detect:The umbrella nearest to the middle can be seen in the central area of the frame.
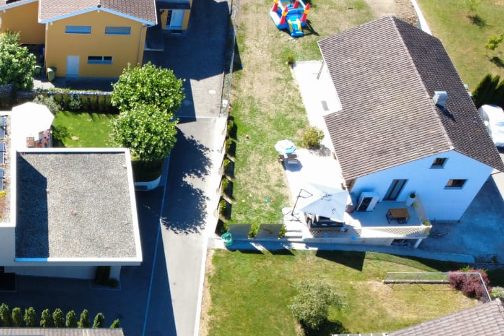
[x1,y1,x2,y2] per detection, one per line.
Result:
[273,143,294,173]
